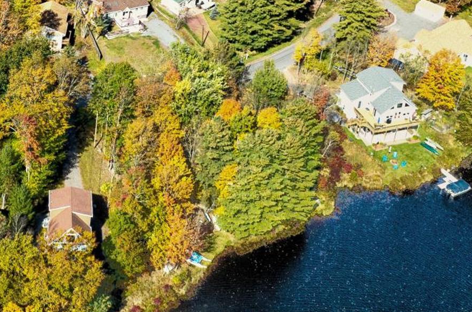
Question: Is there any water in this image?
Yes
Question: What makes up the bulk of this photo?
trees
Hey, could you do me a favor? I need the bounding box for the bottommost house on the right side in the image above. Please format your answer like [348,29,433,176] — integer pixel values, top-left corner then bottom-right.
[336,62,428,153]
